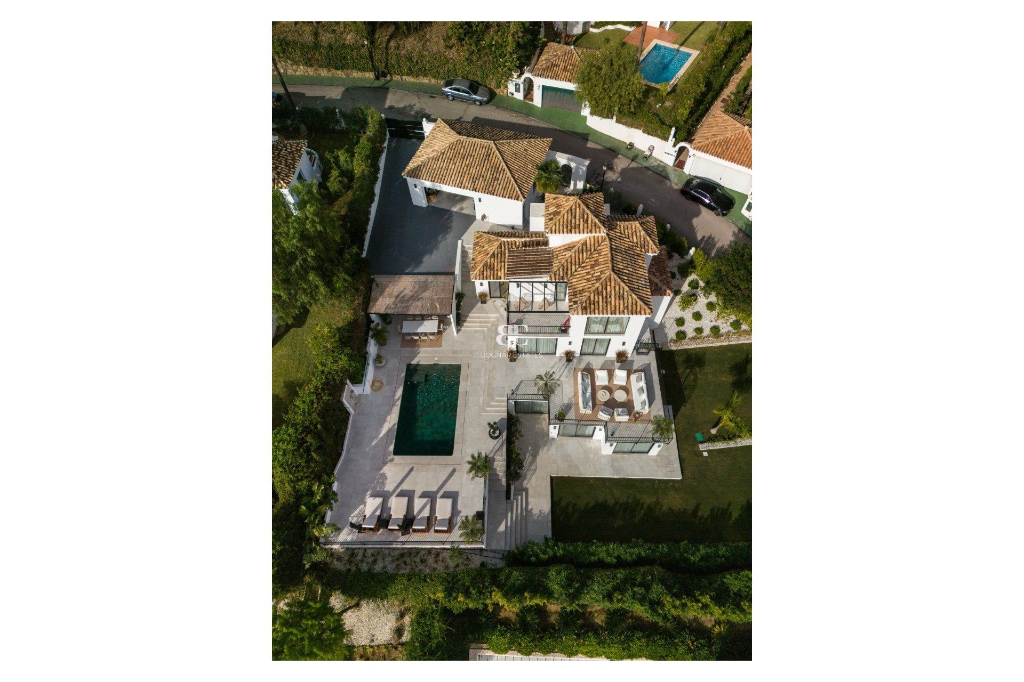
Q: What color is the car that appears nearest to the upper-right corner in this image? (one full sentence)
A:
The car that appears nearest to the upper-right corner looks black in the image.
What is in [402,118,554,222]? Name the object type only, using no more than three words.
building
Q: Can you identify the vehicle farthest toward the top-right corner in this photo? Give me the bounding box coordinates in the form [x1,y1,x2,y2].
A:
[677,176,739,216]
